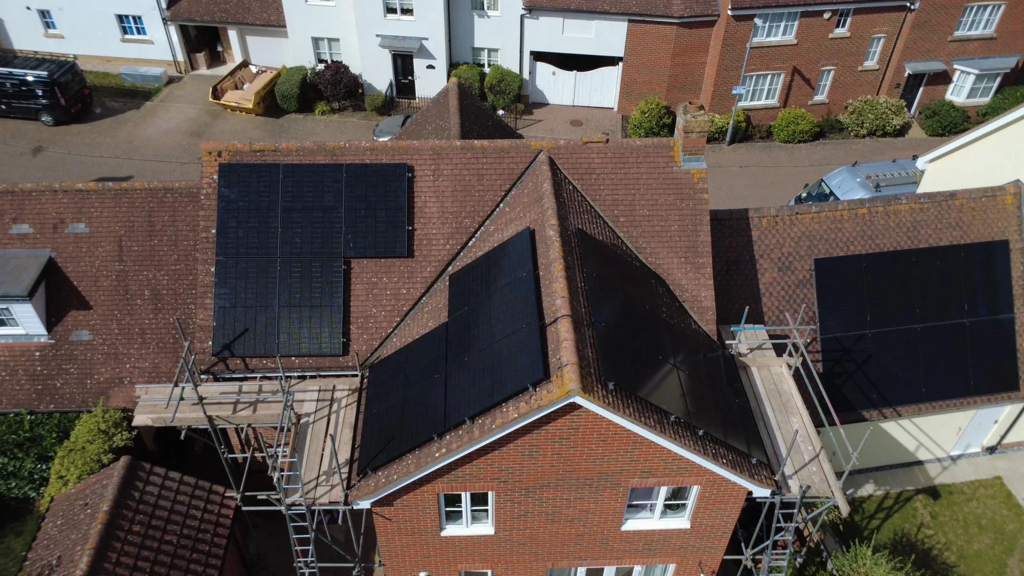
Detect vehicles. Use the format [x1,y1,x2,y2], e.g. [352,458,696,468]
[772,152,923,203]
[0,57,96,129]
[373,105,425,144]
